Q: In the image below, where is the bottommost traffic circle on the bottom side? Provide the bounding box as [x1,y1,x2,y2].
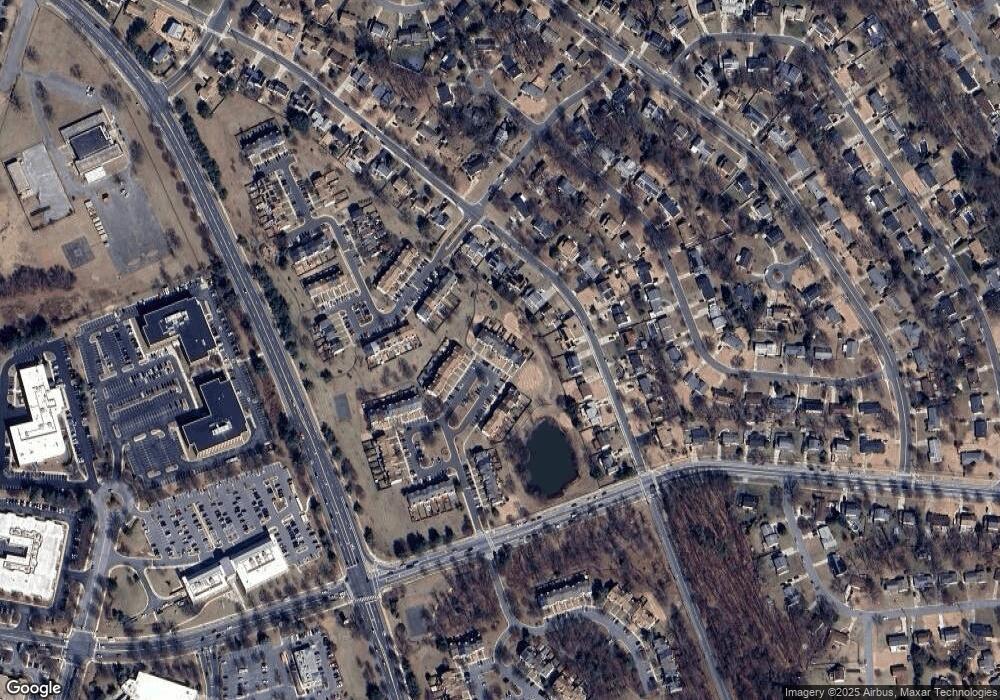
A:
[95,479,134,516]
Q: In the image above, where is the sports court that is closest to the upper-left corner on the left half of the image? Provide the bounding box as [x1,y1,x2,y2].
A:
[62,236,95,268]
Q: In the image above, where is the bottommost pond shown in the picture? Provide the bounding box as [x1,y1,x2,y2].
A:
[526,421,578,497]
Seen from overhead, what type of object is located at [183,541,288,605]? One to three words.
building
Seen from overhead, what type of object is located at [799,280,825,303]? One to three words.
house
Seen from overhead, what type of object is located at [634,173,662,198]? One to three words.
house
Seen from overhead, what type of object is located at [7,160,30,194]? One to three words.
building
